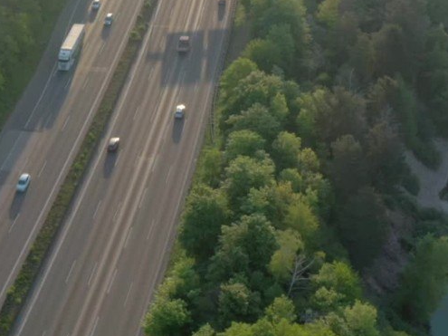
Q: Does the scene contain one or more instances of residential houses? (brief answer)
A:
No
